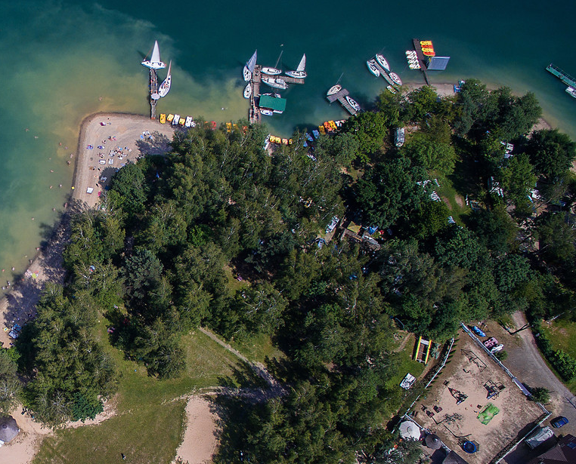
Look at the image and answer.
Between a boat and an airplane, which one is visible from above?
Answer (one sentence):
This aerial view contains a boat.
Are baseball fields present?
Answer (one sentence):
No, no baseball field is visible in the view.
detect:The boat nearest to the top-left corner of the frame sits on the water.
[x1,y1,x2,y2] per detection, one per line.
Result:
[142,43,166,68]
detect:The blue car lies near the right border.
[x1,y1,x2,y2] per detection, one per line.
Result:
[551,416,570,429]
